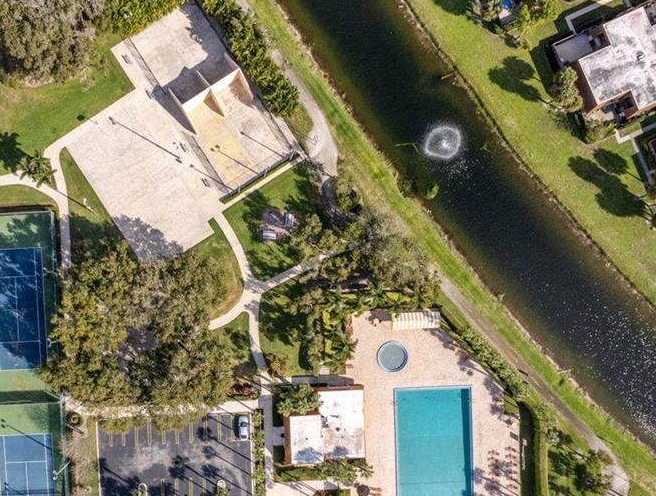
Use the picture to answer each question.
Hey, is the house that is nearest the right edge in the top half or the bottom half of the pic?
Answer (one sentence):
Seen from above, the house that is nearest the right edge lies in the top half of the view.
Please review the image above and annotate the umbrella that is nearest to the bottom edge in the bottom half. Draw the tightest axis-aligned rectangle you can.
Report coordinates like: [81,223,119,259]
[356,483,370,496]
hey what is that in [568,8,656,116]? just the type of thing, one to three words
house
